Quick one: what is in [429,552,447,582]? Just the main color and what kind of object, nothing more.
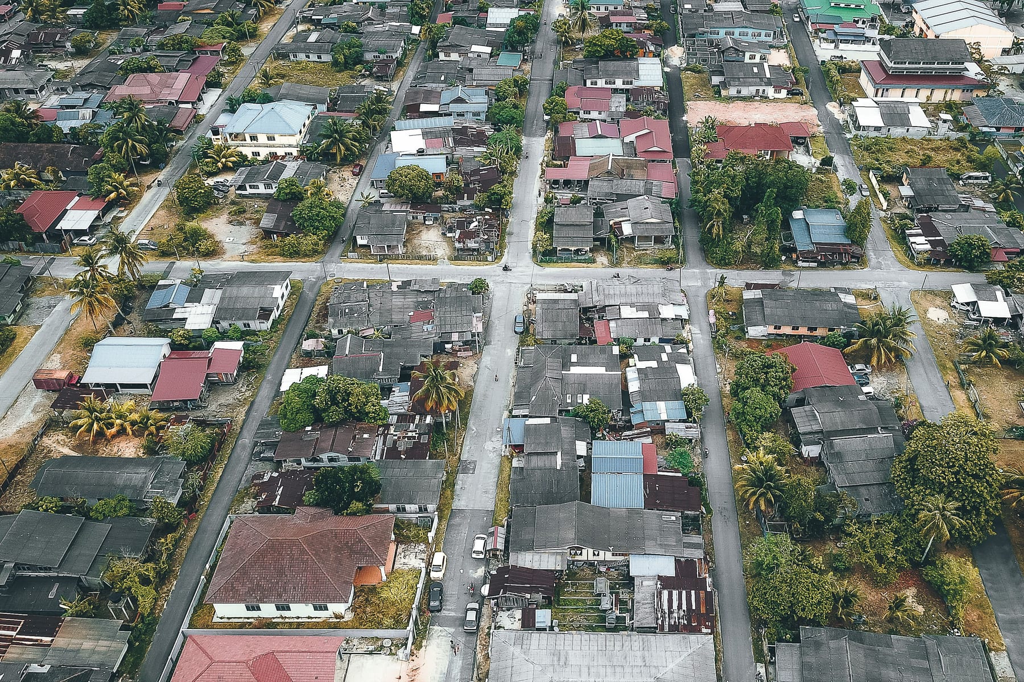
white car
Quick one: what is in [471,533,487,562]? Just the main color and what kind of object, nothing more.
white car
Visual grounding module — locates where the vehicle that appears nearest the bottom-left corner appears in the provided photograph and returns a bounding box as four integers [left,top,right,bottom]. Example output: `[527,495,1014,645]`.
[23,366,86,396]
